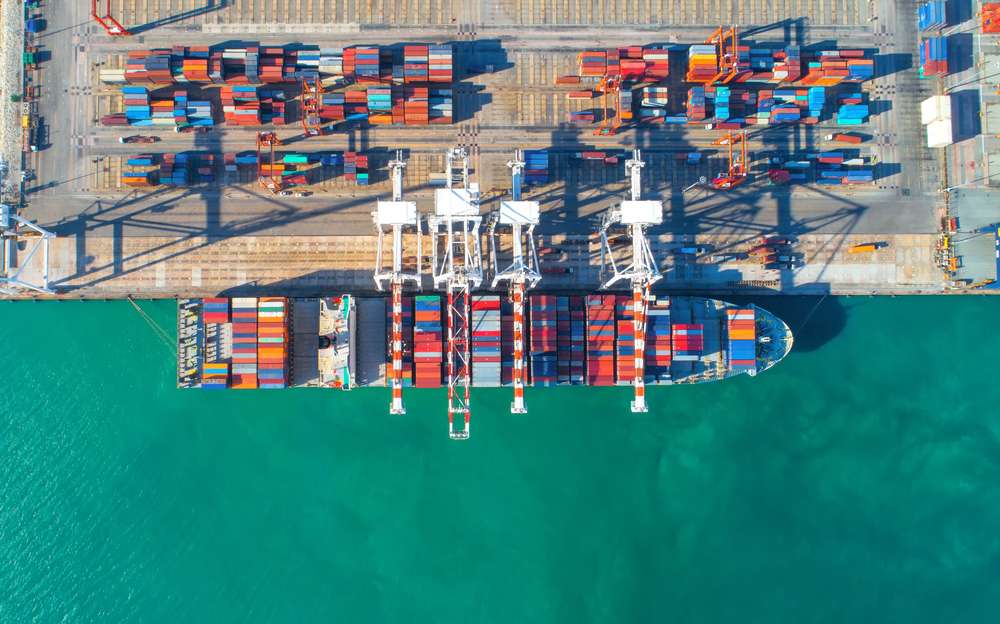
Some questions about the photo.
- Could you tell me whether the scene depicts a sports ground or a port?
port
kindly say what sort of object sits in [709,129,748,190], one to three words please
container crane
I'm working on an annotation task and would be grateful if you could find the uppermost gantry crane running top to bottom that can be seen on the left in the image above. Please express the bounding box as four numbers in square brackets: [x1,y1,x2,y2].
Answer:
[298,74,327,139]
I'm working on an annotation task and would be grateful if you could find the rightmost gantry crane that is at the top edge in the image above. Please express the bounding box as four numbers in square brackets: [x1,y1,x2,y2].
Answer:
[701,22,739,87]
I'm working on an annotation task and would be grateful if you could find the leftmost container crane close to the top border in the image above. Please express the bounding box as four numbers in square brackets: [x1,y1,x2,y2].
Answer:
[91,0,131,37]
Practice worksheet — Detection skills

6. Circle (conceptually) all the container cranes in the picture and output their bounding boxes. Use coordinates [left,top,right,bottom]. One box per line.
[91,0,131,37]
[482,152,543,412]
[298,74,327,139]
[366,152,428,412]
[709,129,748,190]
[591,73,623,137]
[425,144,486,439]
[589,152,663,411]
[256,130,287,192]
[701,22,739,87]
